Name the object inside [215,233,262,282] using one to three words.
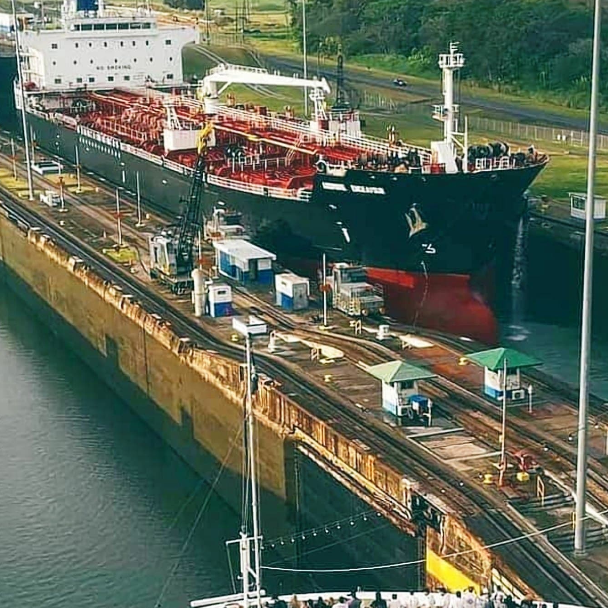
shed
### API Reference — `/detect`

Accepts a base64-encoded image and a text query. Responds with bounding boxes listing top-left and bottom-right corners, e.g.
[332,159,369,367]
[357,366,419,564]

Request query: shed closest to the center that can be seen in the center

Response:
[276,277,308,311]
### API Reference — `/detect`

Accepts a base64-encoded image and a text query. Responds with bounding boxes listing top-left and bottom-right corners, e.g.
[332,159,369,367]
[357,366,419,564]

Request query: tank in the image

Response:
[189,275,208,316]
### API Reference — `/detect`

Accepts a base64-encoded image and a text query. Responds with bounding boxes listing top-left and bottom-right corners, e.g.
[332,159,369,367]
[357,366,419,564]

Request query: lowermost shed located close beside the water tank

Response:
[208,287,233,319]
